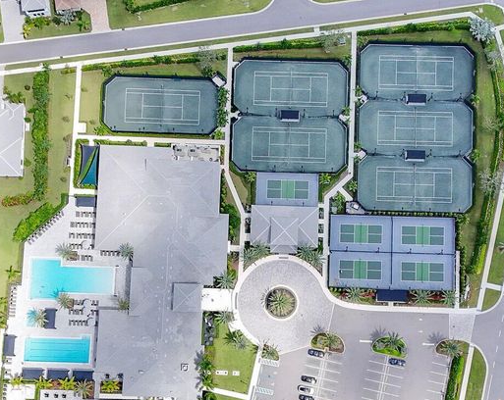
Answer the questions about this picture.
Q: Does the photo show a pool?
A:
Yes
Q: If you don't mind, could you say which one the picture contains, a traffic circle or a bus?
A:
traffic circle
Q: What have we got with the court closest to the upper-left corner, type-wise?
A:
tennis court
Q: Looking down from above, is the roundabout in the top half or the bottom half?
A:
bottom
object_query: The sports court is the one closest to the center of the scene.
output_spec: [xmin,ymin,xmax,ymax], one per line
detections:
[256,173,318,206]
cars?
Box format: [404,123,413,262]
[390,358,406,367]
[302,376,317,385]
[309,350,324,358]
[299,386,314,395]
[300,395,315,400]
